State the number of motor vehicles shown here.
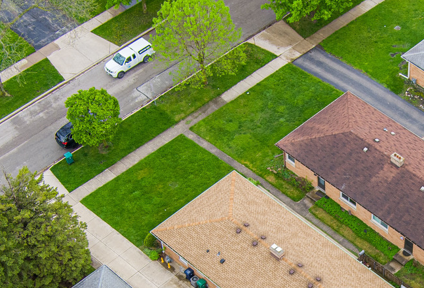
2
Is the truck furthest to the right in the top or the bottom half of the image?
top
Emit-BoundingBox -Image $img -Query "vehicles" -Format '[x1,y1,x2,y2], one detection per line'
[100,35,157,79]
[54,119,81,148]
